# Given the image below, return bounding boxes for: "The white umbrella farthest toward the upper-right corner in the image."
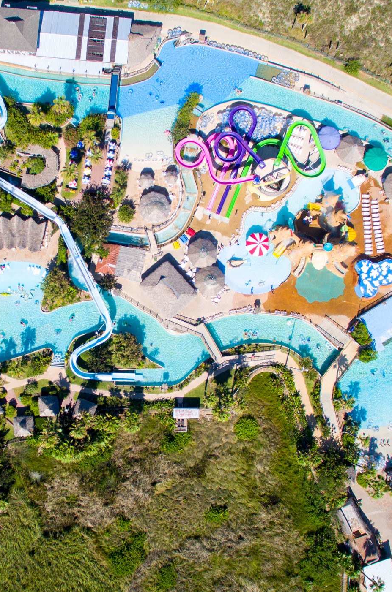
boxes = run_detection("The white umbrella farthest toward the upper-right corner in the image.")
[245,232,269,255]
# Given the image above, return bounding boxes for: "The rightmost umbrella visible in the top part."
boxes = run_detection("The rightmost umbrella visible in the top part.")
[361,146,388,172]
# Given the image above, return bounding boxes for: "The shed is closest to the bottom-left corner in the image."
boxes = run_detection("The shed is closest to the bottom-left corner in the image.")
[13,414,37,437]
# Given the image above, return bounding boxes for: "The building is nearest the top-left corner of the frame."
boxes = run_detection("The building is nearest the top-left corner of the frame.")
[0,7,41,57]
